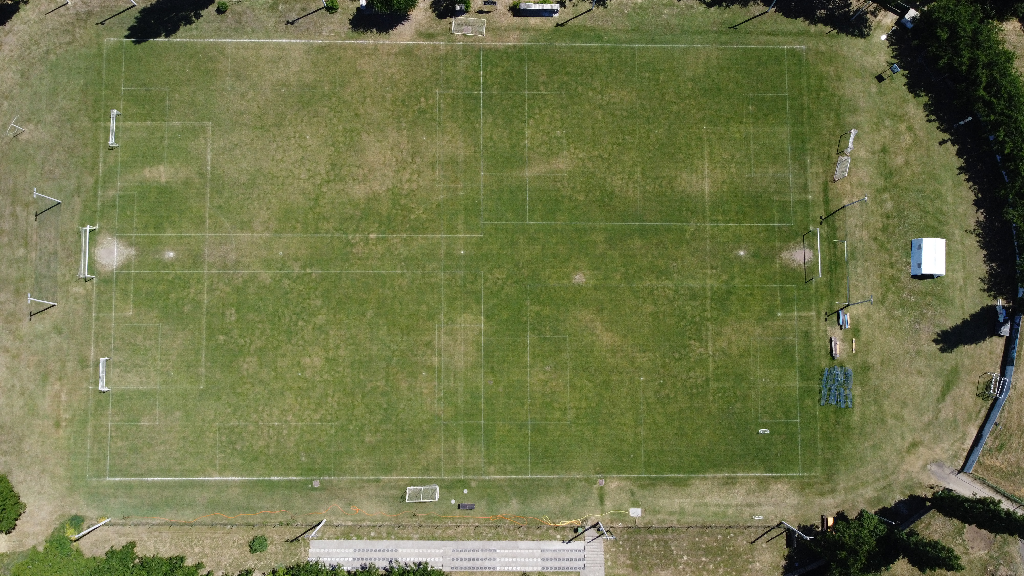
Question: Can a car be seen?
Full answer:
No, there isn't any car down there.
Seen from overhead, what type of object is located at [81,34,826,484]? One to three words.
soccer field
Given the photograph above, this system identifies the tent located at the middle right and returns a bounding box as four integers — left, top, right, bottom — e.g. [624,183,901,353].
[911,236,946,281]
